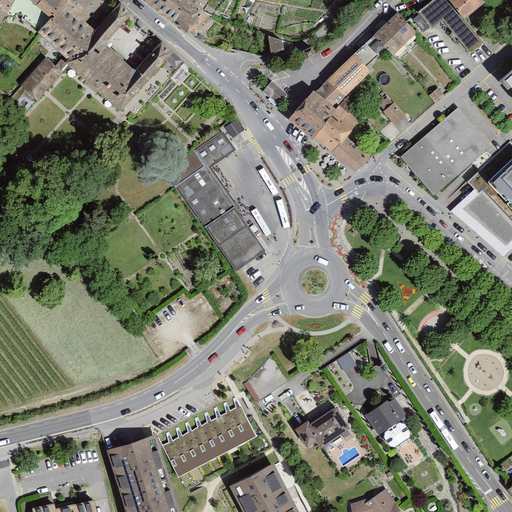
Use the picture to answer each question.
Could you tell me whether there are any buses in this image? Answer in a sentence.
Yes, looking at the shot, I can spot a bus.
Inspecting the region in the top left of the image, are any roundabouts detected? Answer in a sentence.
No, in the top left of the image there is no roundabout.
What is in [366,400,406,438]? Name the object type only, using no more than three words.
house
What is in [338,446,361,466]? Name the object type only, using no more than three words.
swimming pool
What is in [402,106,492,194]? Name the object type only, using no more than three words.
building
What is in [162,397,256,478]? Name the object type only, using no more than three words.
building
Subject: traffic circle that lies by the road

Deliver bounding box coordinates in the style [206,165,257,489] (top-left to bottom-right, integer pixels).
[280,247,350,317]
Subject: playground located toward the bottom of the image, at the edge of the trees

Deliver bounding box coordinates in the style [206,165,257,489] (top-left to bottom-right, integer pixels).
[464,350,510,395]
